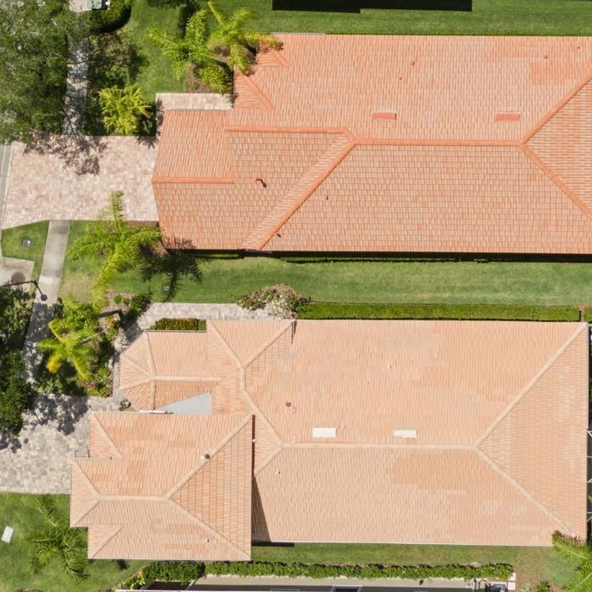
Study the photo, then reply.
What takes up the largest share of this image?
buildings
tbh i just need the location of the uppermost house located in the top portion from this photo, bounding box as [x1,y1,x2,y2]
[152,33,592,255]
